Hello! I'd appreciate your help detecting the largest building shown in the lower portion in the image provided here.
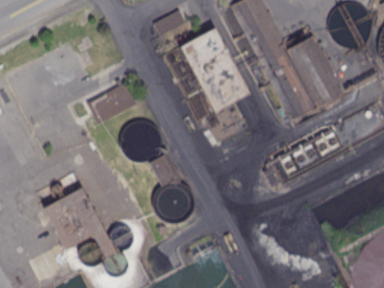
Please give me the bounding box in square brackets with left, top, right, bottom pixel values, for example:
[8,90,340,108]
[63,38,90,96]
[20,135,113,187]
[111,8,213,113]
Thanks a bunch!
[42,189,118,262]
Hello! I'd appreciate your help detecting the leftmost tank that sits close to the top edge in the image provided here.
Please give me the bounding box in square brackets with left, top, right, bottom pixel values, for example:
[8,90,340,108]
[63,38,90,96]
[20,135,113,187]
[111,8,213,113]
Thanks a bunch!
[326,0,374,52]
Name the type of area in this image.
industrial area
